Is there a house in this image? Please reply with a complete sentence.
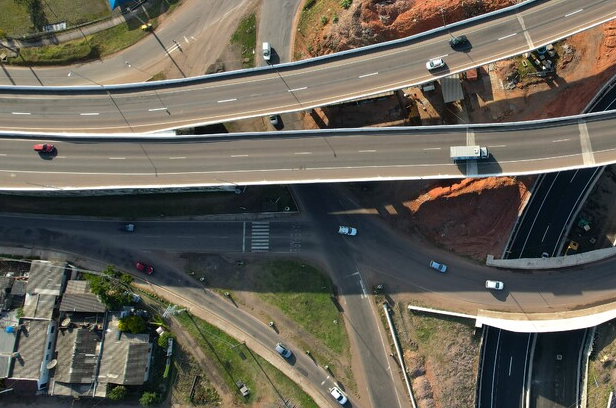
Yes, a house is visible in the scene.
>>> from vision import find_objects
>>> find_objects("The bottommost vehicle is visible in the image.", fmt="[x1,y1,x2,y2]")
[329,386,348,405]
